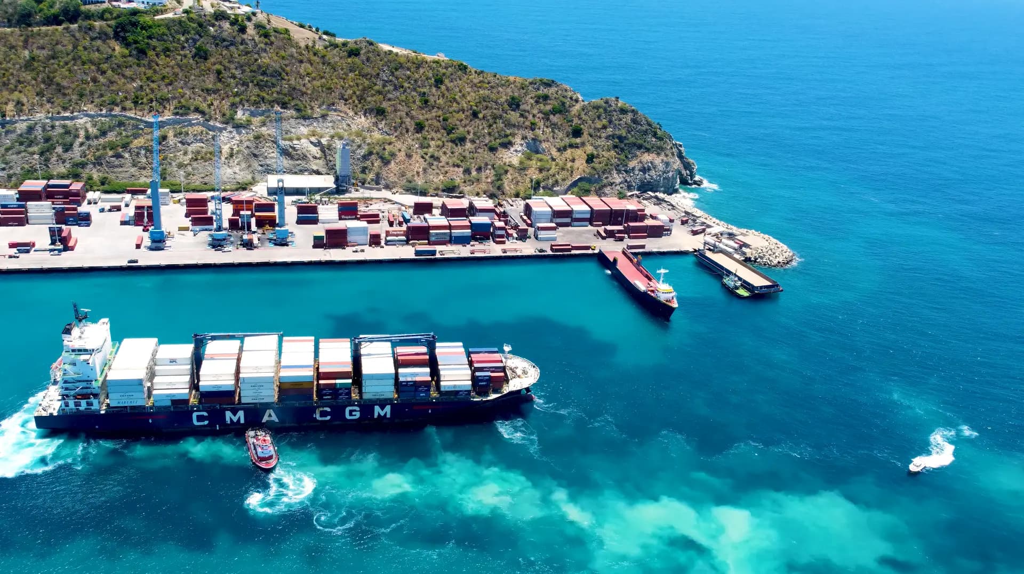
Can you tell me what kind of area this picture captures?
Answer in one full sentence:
This image shows a port.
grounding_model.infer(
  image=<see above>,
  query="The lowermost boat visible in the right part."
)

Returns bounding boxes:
[910,458,925,471]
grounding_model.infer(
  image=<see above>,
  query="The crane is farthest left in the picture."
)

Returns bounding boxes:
[142,108,176,248]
